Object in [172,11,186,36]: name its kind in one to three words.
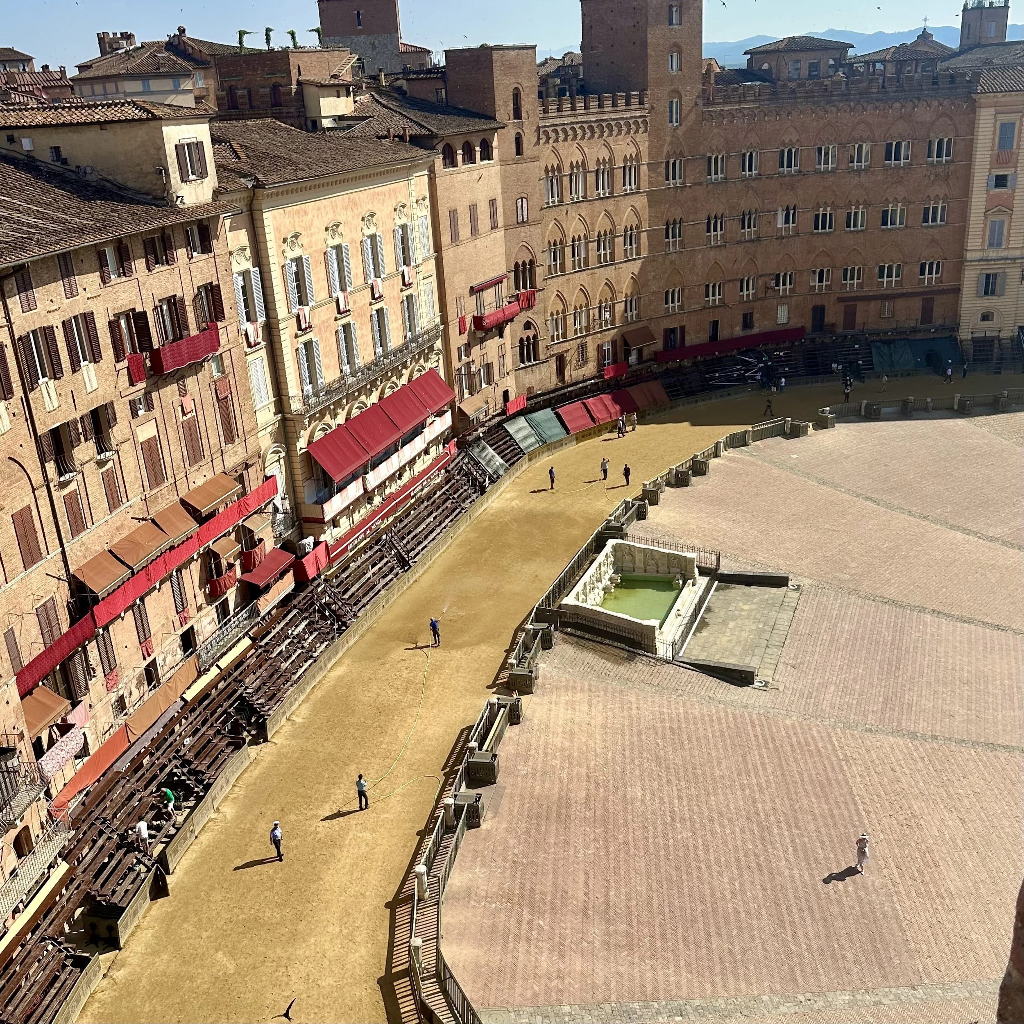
chimney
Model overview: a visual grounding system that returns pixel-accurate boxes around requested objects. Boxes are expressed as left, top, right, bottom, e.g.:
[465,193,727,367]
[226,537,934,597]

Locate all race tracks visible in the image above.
[34,371,1024,1024]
